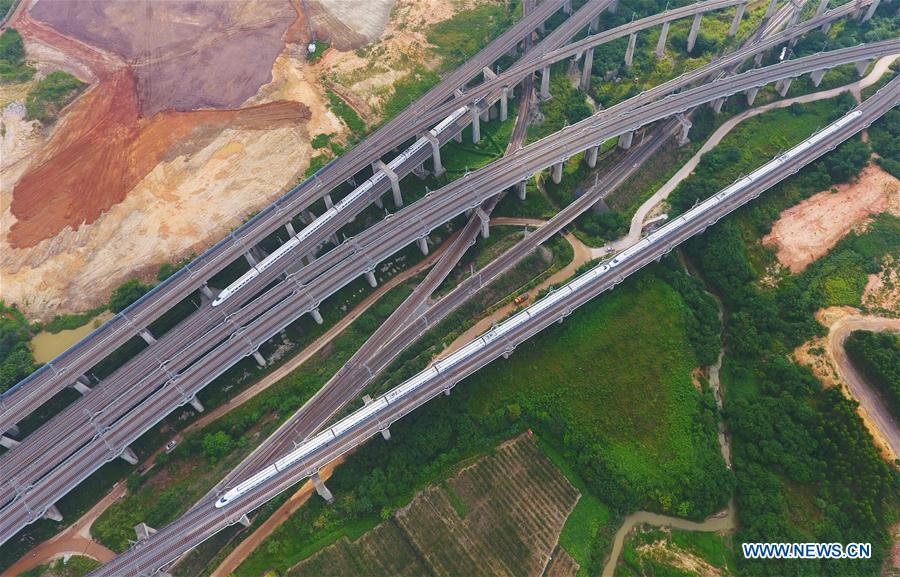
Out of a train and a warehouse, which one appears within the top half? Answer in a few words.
train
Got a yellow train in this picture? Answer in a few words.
No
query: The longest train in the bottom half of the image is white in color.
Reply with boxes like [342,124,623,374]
[217,265,611,505]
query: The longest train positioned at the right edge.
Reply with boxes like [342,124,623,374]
[611,107,863,266]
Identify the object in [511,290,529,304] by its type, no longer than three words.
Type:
vehicle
